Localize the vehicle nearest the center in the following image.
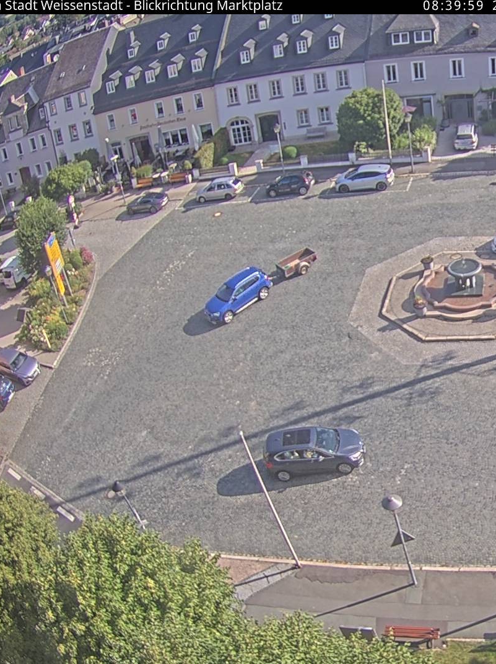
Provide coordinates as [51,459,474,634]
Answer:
[200,266,273,326]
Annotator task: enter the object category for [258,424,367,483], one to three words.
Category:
car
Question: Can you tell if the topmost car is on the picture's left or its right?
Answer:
right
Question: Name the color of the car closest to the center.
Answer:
blue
